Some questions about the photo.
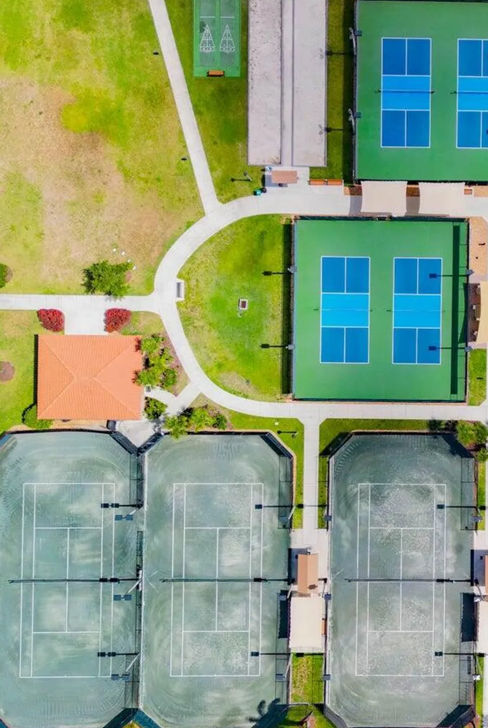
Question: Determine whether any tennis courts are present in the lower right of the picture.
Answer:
Yes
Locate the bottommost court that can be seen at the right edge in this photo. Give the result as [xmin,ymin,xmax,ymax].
[325,435,477,728]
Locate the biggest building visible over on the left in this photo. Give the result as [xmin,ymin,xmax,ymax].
[37,334,146,420]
